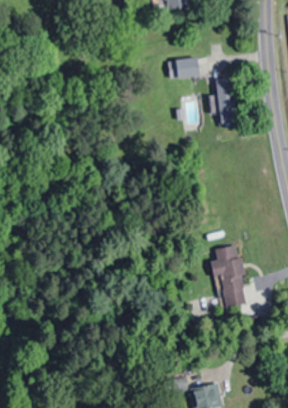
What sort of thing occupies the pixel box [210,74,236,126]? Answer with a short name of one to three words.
house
